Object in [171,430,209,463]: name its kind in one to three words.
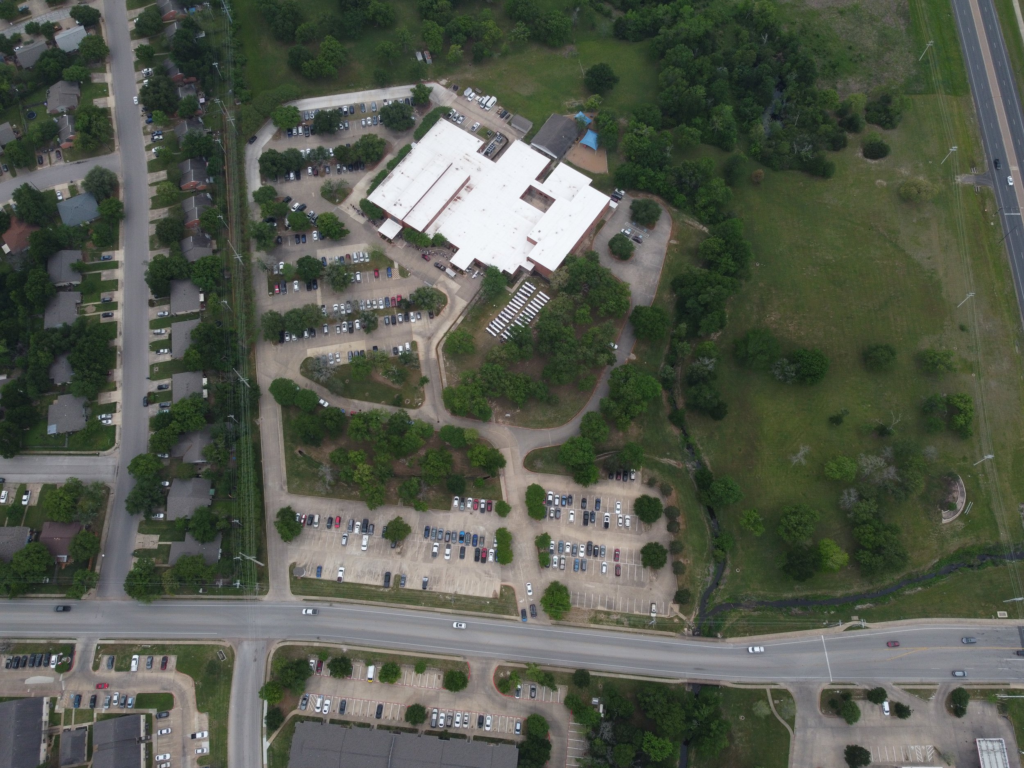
house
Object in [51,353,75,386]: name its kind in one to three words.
house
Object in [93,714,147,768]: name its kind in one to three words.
building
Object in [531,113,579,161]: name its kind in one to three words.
building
